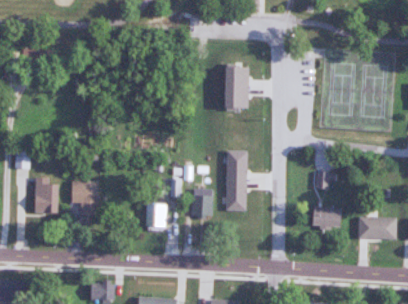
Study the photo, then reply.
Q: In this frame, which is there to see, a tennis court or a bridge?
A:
tennis court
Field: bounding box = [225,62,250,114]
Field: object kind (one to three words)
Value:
building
